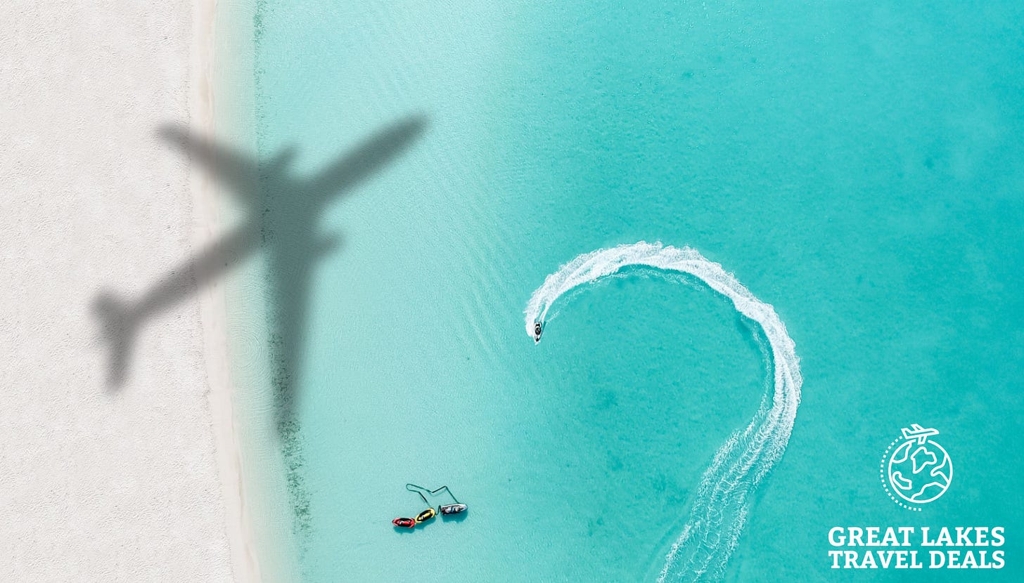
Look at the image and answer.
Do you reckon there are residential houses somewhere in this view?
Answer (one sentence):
No, there is no residential house in the image.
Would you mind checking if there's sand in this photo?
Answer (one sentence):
Yes, the picture does contain sand.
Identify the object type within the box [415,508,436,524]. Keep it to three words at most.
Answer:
boat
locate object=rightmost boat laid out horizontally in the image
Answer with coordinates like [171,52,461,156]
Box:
[440,504,467,516]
